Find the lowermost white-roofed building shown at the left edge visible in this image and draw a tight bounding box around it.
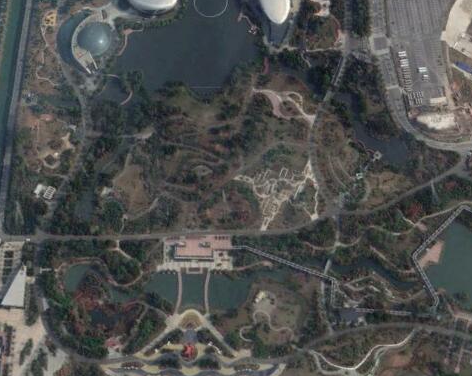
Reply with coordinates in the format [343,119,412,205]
[1,265,26,306]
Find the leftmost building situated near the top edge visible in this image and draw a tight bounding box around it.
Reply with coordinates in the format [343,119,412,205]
[60,8,113,74]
